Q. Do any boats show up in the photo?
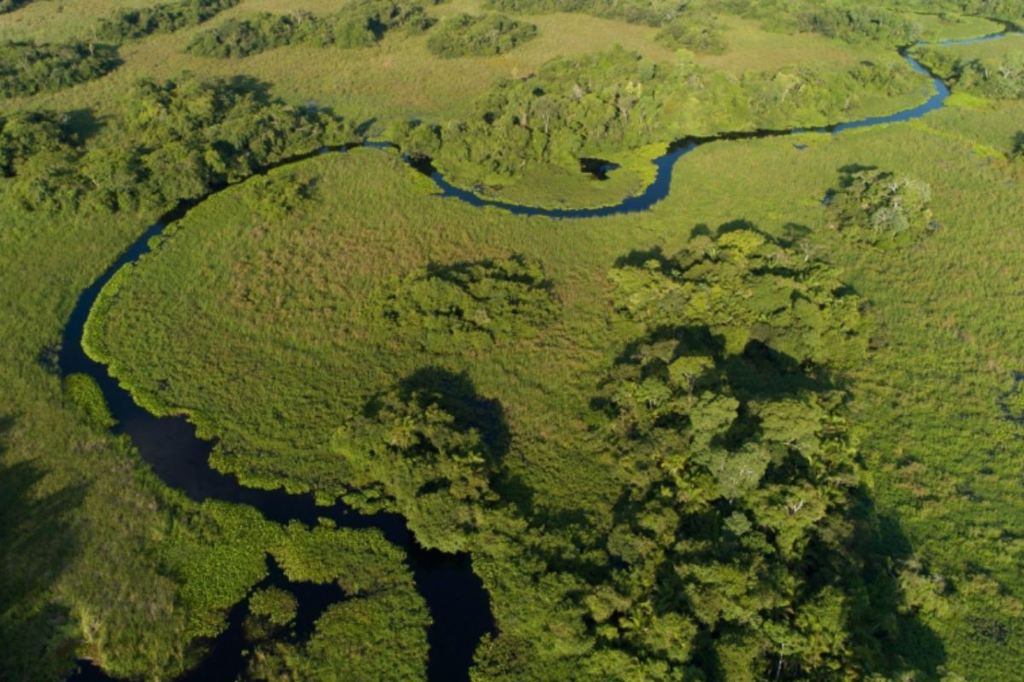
No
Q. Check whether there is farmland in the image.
No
